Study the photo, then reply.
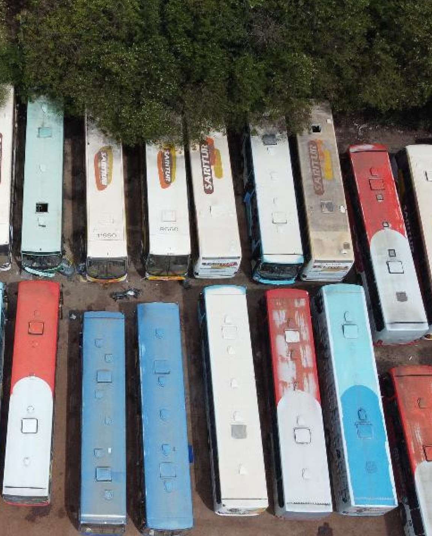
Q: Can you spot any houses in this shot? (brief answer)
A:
No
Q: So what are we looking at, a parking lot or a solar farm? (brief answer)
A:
parking lot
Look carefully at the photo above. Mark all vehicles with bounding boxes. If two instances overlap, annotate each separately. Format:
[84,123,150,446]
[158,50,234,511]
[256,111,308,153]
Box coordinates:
[310,287,399,517]
[3,282,64,507]
[19,88,66,277]
[75,314,130,536]
[132,304,195,536]
[339,147,426,347]
[256,291,331,521]
[0,82,16,267]
[83,92,130,280]
[185,115,241,278]
[237,95,303,285]
[391,147,432,341]
[197,287,267,518]
[111,283,141,299]
[140,90,191,277]
[288,94,353,282]
[378,367,432,536]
